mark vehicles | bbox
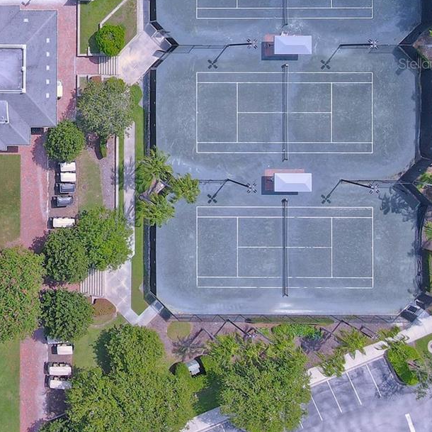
[56,171,75,182]
[53,193,73,205]
[42,329,61,342]
[47,373,71,389]
[54,340,73,353]
[47,360,71,374]
[56,161,75,172]
[56,82,63,99]
[52,215,75,226]
[55,182,75,193]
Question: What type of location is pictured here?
sports ground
